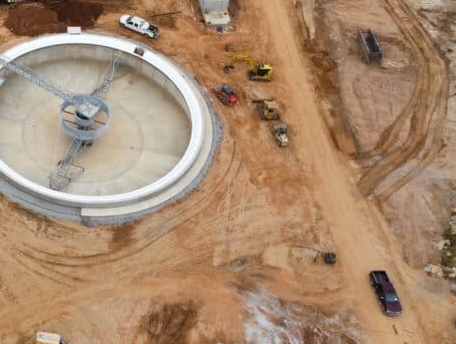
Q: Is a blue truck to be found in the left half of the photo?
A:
No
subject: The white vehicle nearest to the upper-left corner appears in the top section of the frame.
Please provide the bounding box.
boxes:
[118,15,162,39]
